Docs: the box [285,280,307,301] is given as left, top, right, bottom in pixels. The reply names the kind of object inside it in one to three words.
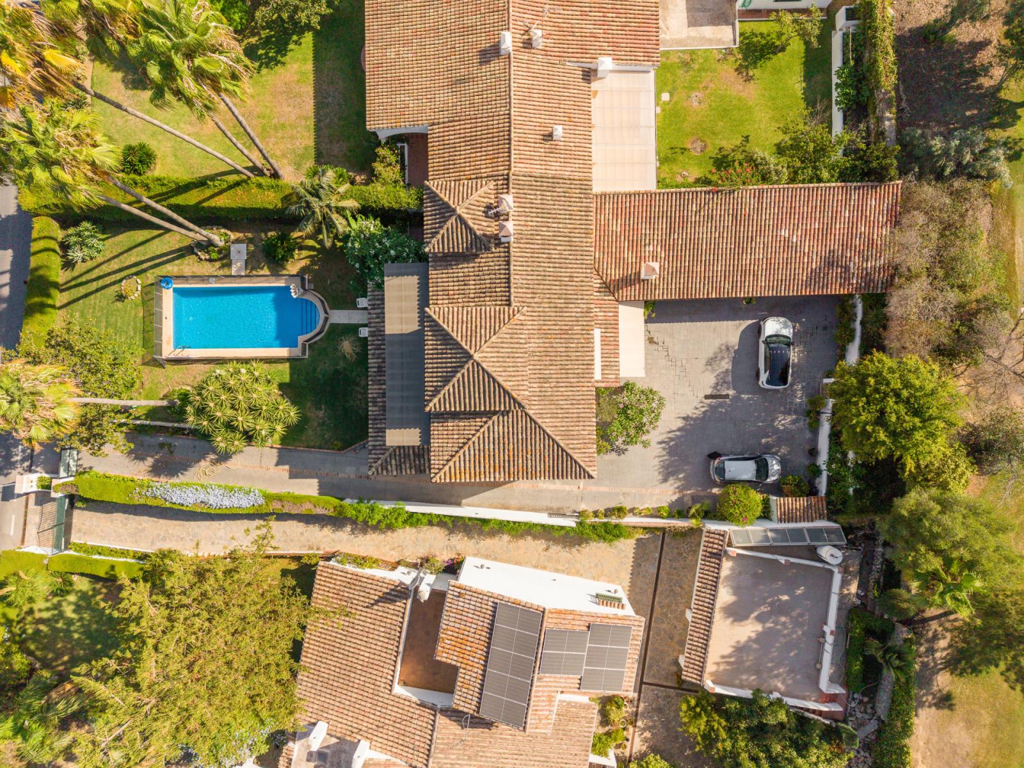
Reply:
fountain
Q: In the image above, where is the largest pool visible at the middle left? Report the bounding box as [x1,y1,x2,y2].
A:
[162,275,330,359]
